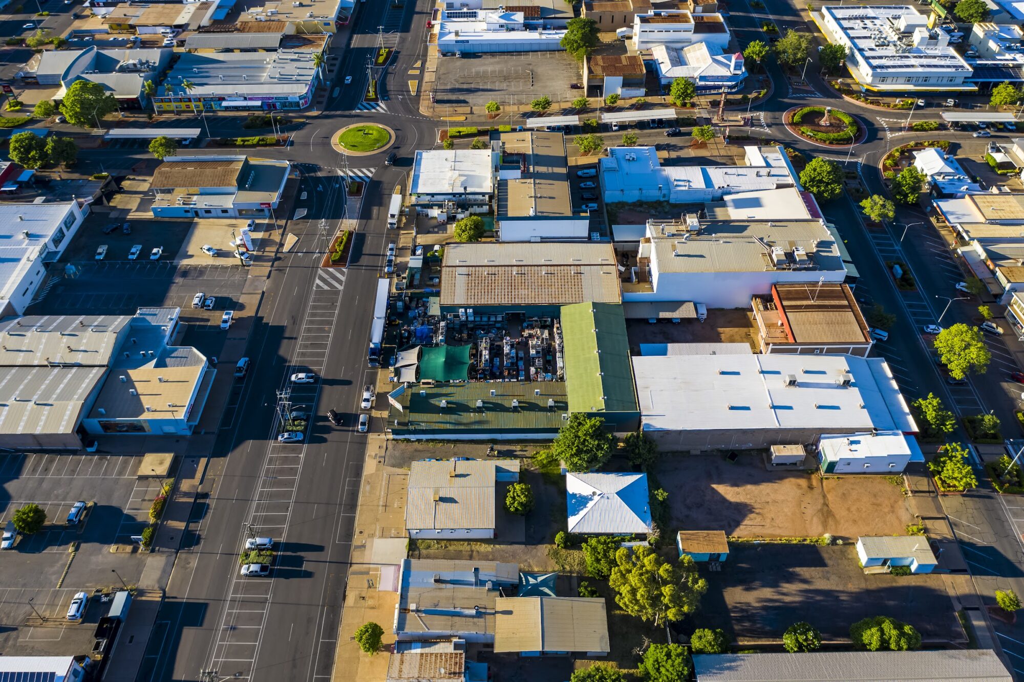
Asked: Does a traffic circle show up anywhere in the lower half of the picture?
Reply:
No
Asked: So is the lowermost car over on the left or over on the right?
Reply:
left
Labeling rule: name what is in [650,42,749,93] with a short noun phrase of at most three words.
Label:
building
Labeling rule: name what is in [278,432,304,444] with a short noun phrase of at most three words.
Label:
vehicle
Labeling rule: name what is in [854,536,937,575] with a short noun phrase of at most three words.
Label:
shed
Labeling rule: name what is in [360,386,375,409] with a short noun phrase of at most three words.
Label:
vehicle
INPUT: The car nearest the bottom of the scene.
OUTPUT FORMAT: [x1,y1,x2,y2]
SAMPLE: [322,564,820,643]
[63,592,91,622]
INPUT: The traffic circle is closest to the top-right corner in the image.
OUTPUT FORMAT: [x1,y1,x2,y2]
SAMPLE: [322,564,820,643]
[782,104,870,149]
